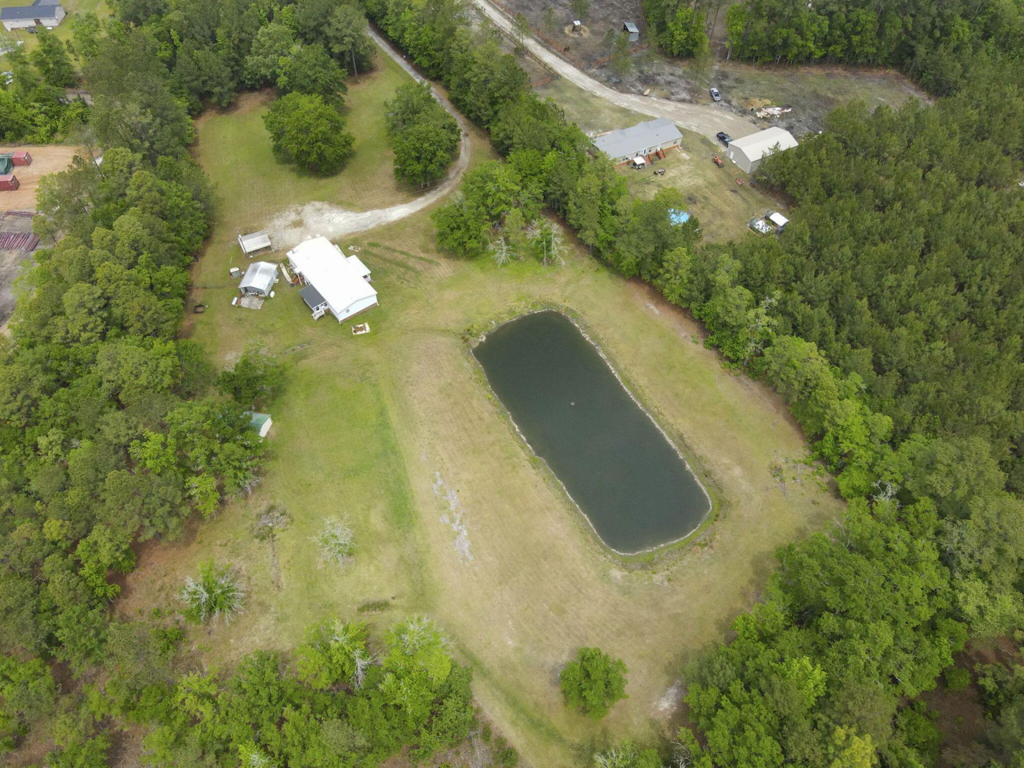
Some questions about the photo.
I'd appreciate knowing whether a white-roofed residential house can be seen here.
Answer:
Yes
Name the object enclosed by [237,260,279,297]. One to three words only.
building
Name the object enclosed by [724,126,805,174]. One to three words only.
barn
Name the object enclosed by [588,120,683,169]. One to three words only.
house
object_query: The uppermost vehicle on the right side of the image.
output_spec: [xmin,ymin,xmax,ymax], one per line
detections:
[709,88,723,100]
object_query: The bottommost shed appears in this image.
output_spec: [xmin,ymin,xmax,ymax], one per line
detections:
[244,407,273,437]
